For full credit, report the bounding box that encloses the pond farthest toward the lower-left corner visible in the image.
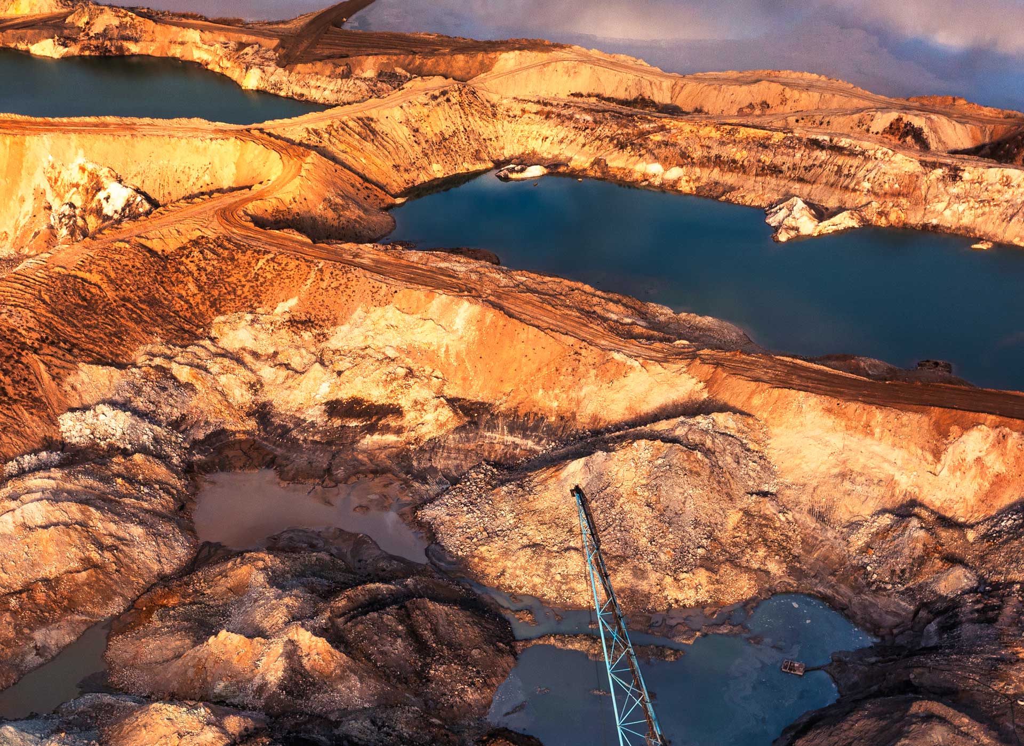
[189,468,437,564]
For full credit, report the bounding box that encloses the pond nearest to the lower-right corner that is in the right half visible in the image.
[468,579,883,746]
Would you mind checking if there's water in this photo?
Yes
